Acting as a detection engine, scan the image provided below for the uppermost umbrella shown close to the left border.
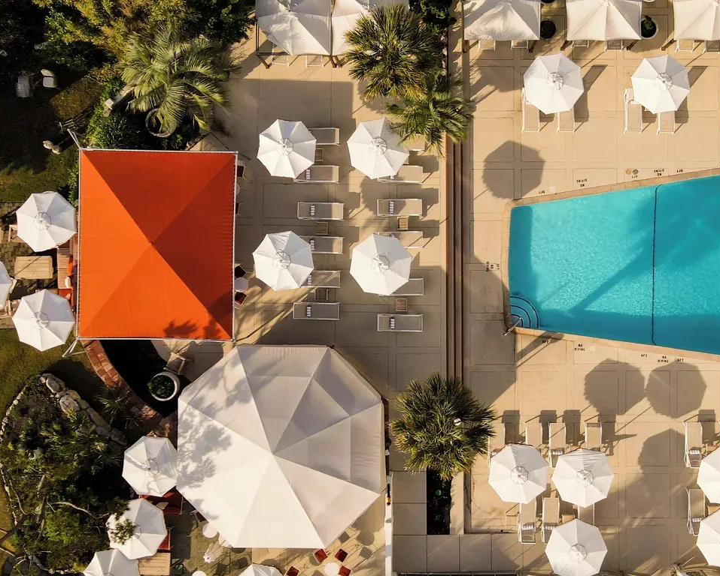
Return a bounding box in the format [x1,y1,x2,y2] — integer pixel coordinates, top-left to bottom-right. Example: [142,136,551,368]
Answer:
[19,189,81,251]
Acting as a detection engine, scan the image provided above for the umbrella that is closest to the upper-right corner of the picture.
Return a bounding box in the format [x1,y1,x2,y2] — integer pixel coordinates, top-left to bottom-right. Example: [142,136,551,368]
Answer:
[632,55,689,113]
